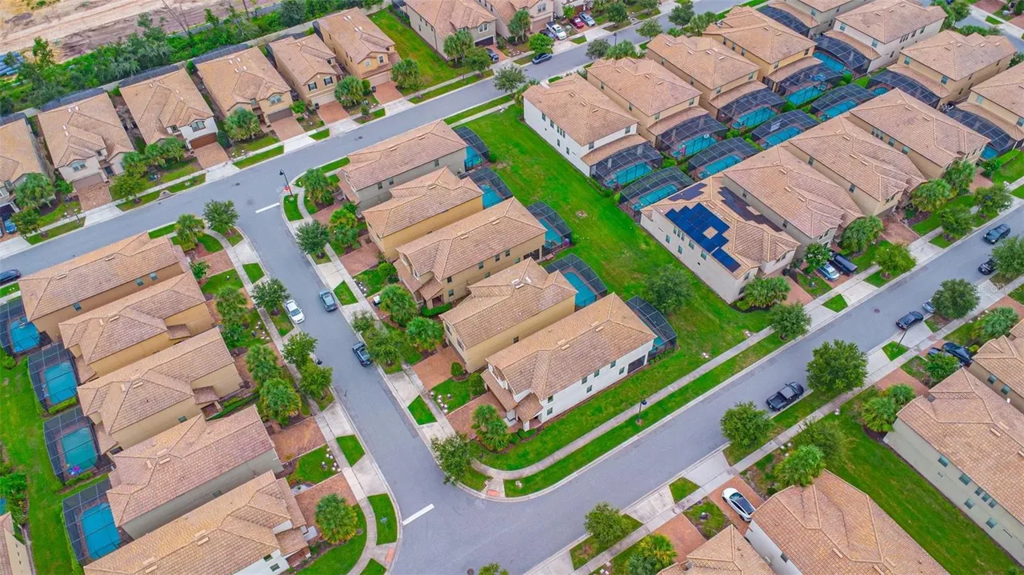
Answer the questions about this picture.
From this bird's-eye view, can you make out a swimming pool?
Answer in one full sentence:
Yes, there's a swimming pool here.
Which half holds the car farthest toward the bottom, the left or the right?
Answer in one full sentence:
The car farthest toward the bottom appears in the right half of the scene.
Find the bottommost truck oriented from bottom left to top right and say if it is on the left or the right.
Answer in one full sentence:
The bottommost truck oriented from bottom left to top right sits on the right side.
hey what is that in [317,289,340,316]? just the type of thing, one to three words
car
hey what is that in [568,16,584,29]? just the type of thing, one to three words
vehicle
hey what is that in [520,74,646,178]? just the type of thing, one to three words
house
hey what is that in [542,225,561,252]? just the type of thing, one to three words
swimming pool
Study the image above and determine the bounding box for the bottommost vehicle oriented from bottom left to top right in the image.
[761,380,805,414]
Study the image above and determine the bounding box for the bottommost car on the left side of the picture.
[351,343,375,370]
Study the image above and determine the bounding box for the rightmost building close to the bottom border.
[885,366,1024,559]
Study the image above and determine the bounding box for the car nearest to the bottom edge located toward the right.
[719,483,759,524]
